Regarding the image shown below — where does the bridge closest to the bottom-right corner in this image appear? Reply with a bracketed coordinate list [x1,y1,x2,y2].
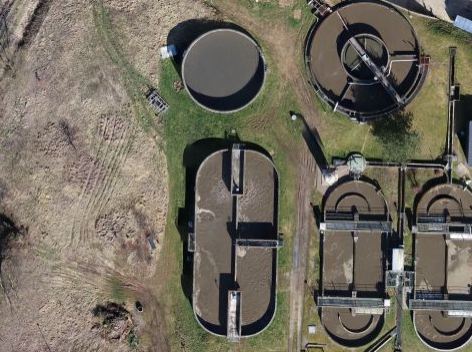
[413,294,472,319]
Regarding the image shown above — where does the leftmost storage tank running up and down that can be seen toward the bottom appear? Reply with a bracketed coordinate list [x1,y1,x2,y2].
[188,144,284,343]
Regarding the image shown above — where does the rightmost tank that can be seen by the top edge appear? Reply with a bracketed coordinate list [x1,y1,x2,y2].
[306,0,426,119]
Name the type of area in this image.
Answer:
industrial area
